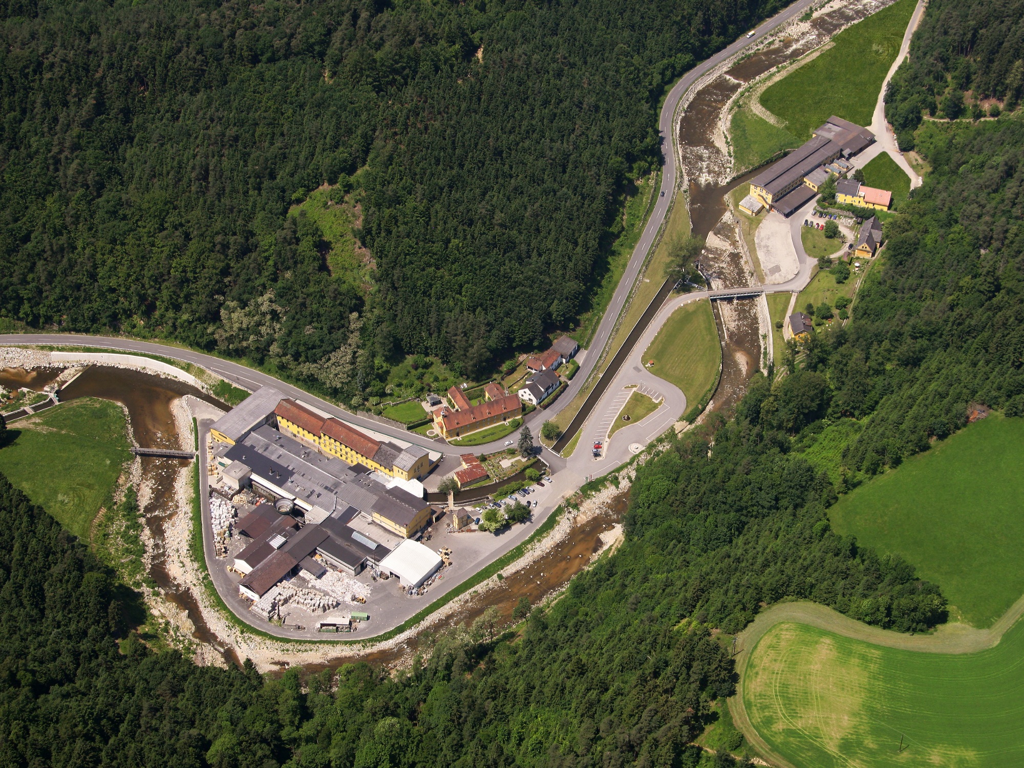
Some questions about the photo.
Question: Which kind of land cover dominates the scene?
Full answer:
The scene is dominated by trees.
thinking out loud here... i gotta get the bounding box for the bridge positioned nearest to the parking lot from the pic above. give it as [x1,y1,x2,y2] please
[708,284,765,299]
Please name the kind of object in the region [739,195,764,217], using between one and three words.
house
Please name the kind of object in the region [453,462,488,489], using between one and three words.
shed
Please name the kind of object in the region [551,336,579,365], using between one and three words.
house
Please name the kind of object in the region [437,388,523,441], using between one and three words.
building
